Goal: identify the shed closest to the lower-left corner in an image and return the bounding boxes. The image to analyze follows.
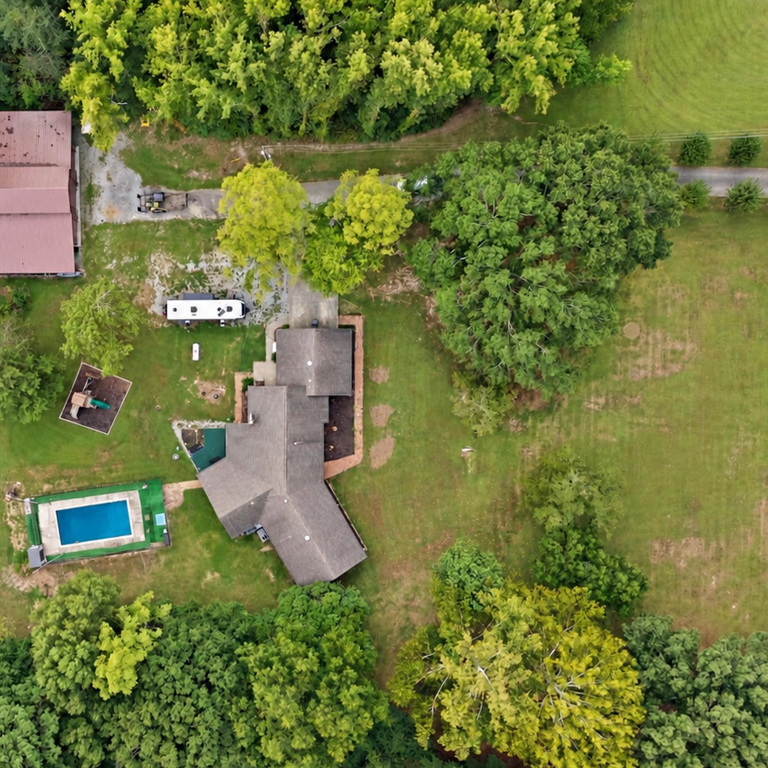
[27,544,51,568]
